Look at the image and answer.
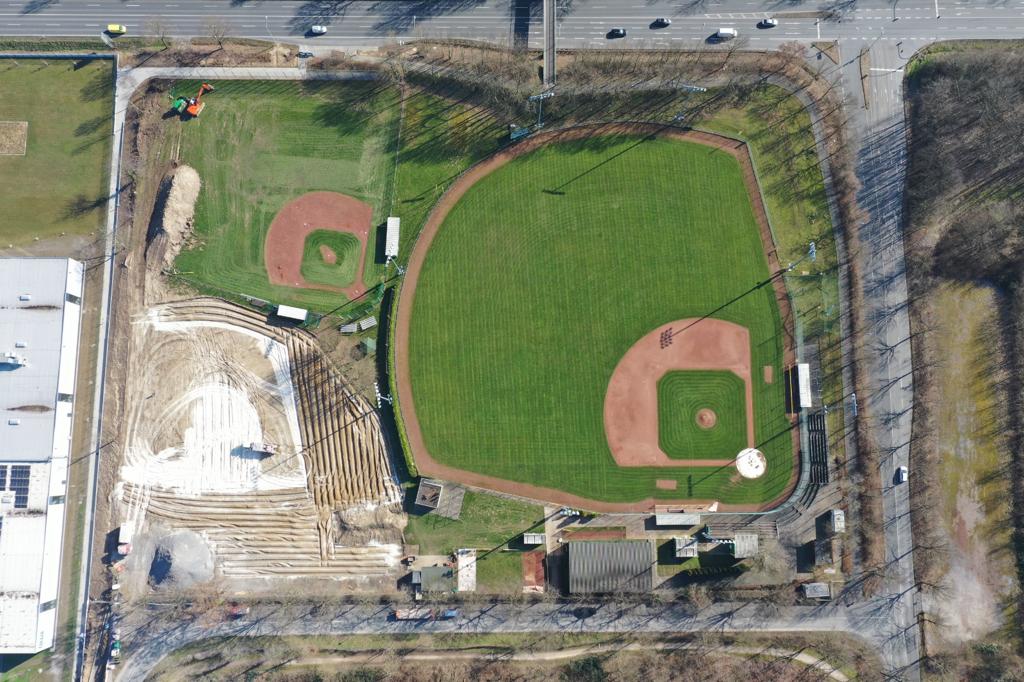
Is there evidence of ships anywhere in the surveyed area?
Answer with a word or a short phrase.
No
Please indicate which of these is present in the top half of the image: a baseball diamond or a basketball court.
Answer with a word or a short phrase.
baseball diamond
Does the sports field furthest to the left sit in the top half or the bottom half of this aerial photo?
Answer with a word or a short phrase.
top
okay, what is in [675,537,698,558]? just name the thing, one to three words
building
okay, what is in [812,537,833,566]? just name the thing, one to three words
shed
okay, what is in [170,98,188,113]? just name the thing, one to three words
vehicle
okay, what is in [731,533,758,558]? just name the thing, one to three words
building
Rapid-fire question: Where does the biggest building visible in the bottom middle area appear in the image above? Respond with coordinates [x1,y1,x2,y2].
[570,541,654,595]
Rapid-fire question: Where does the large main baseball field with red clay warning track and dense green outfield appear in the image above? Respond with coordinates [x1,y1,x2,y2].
[395,124,800,513]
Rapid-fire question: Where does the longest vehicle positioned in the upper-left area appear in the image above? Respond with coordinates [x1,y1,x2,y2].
[187,89,213,120]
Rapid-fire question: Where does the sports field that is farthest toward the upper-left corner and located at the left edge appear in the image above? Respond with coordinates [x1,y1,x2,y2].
[0,58,113,246]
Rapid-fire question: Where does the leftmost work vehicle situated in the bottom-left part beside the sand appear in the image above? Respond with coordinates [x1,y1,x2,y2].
[115,543,133,555]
